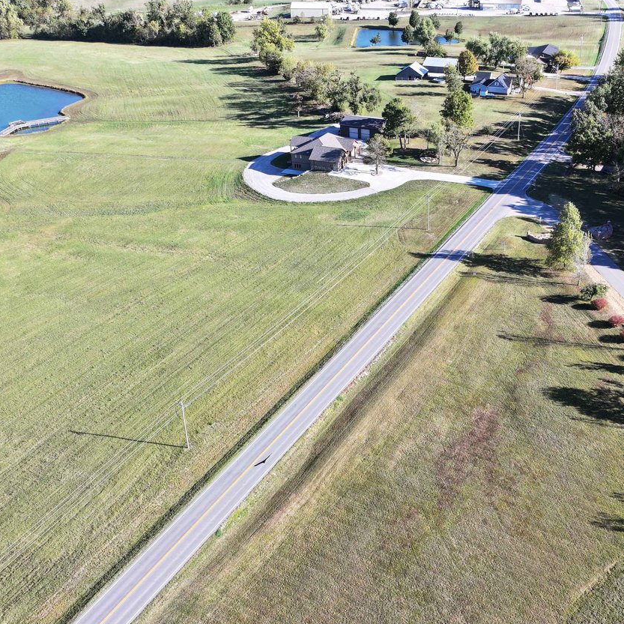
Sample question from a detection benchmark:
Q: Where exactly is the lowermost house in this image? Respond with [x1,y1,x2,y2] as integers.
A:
[286,136,364,177]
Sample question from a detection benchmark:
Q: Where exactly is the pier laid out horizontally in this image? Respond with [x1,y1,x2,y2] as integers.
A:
[0,114,71,133]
